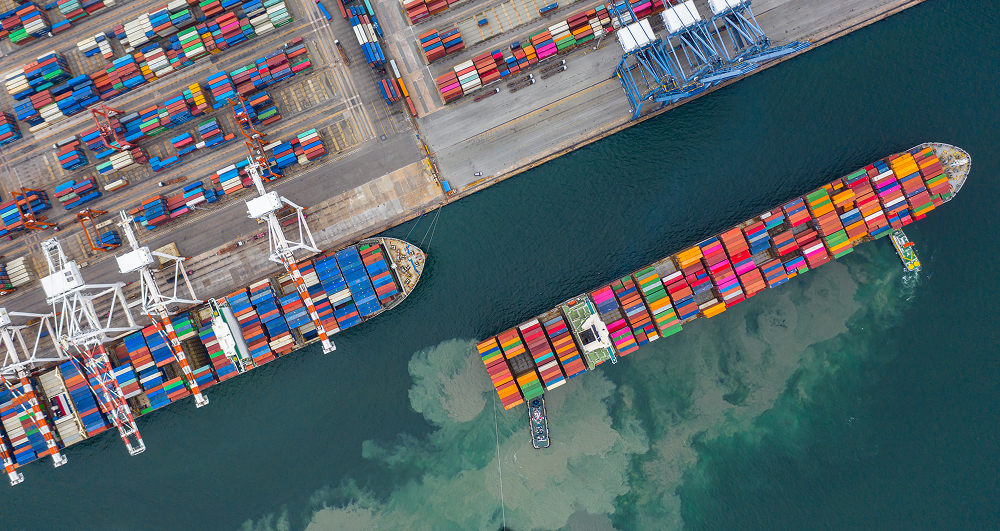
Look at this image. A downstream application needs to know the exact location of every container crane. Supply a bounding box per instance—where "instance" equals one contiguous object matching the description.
[694,0,819,86]
[609,0,713,121]
[228,94,272,143]
[75,211,126,253]
[11,187,64,230]
[245,137,287,184]
[37,233,150,460]
[240,152,337,357]
[112,206,210,412]
[91,104,142,154]
[0,290,75,471]
[657,0,766,93]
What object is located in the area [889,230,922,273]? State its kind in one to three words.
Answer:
boat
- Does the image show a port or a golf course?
port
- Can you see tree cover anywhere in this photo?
No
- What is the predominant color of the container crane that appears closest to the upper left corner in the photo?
red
